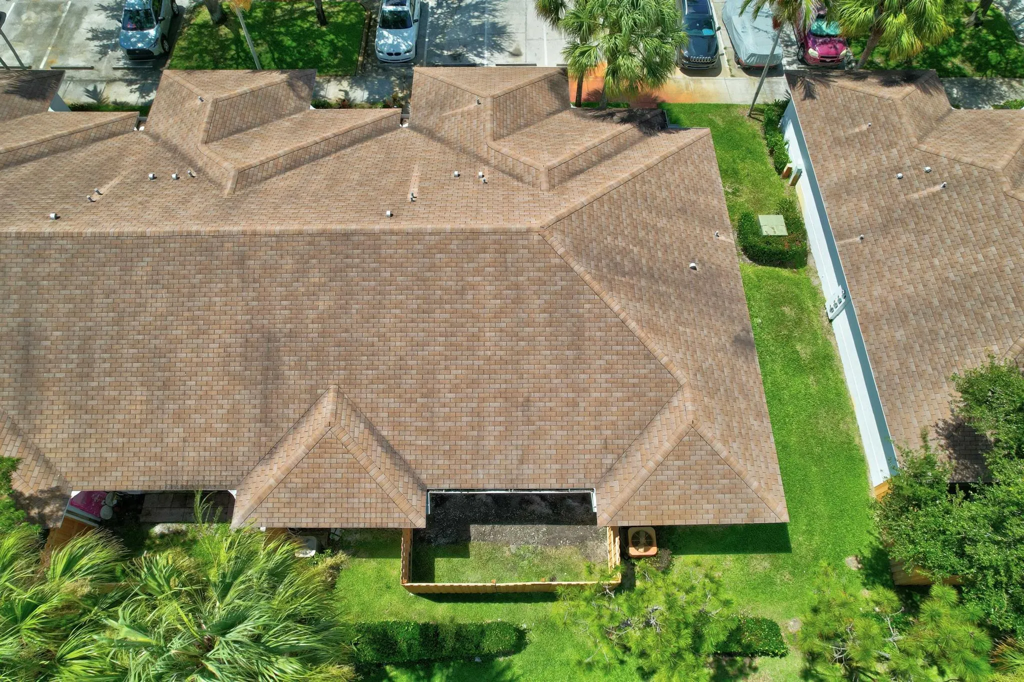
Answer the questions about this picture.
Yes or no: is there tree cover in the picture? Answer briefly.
Yes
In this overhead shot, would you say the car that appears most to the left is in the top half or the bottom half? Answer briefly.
top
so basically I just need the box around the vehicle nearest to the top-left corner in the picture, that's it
[118,0,188,58]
